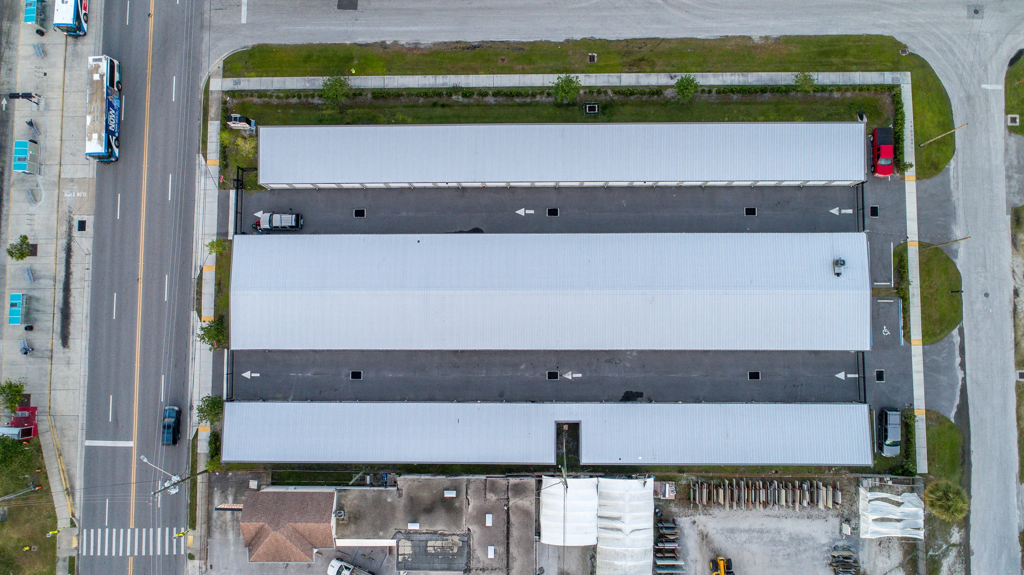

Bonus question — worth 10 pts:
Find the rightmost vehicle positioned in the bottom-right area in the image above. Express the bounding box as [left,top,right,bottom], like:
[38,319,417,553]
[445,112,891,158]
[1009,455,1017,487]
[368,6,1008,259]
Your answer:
[877,408,902,457]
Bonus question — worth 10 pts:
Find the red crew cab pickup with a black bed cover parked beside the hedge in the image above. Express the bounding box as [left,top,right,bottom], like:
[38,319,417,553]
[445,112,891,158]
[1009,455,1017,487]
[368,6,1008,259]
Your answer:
[870,126,895,177]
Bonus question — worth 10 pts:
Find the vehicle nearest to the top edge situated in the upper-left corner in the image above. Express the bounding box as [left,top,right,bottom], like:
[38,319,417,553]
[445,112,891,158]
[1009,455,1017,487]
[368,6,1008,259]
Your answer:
[56,0,91,38]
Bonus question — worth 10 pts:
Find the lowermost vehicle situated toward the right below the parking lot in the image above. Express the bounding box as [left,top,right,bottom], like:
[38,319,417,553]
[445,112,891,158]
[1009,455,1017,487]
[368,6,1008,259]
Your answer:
[707,555,731,575]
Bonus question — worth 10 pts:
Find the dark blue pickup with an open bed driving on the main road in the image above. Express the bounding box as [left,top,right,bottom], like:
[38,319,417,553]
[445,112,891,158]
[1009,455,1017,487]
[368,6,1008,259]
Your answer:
[159,405,181,447]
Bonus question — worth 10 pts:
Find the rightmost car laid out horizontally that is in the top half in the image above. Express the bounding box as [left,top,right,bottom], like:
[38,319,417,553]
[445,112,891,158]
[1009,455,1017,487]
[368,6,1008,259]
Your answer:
[261,211,304,231]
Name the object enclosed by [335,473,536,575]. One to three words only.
building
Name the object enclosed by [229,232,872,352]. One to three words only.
building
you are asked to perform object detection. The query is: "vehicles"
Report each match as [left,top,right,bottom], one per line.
[56,0,91,38]
[159,405,181,447]
[85,55,121,163]
[870,126,895,177]
[328,557,379,575]
[261,211,304,231]
[707,555,731,575]
[877,408,902,457]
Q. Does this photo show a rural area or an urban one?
urban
